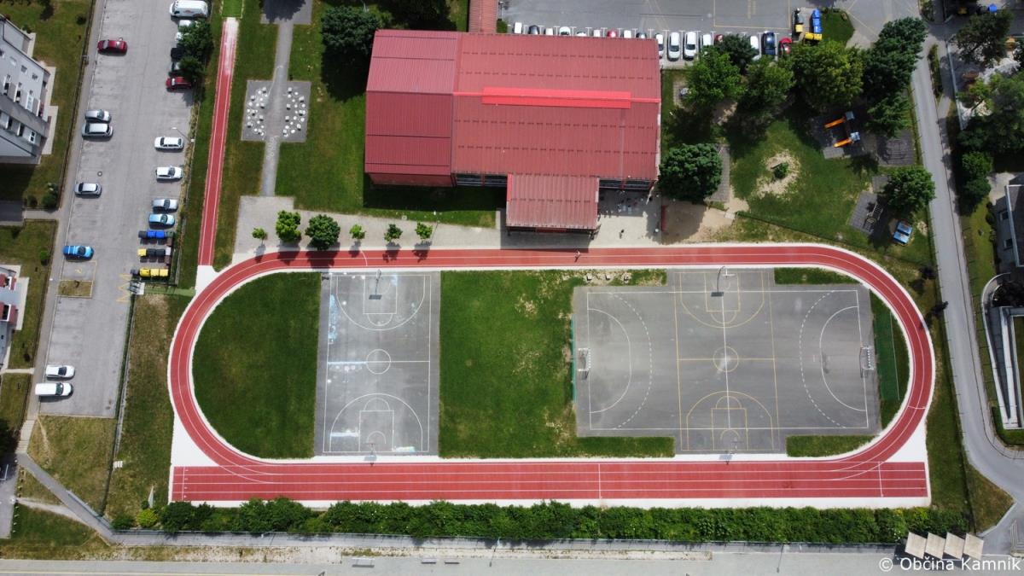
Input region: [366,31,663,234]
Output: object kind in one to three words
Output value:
building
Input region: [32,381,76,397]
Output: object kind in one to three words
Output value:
vehicle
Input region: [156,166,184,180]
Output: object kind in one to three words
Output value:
car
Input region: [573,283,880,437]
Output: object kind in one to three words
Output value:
sports court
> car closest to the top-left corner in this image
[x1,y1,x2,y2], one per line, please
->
[97,39,128,53]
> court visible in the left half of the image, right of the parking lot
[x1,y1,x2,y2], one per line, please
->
[314,271,441,456]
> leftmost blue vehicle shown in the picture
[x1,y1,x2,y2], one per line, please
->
[61,245,95,259]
